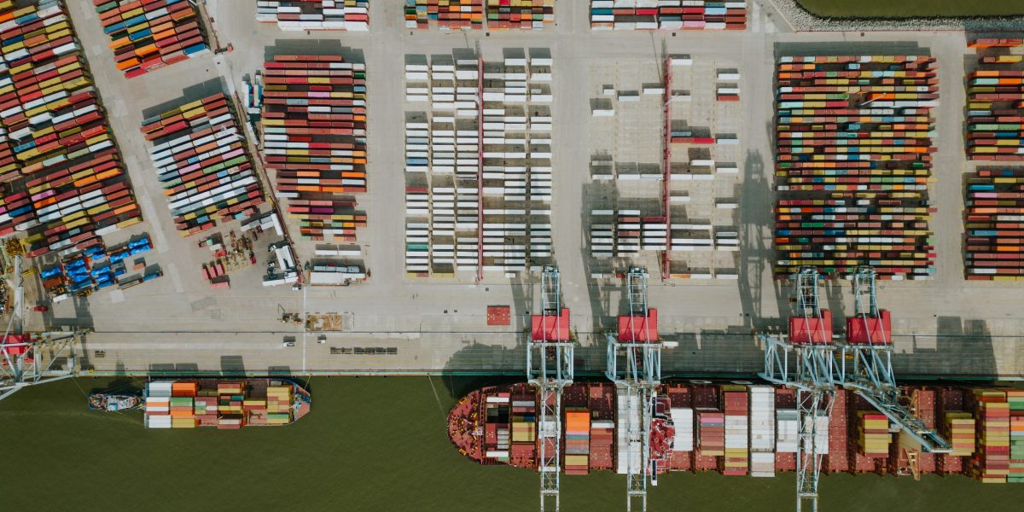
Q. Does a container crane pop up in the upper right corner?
No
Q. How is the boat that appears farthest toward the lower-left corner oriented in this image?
from left to right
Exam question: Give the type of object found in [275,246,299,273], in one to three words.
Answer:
building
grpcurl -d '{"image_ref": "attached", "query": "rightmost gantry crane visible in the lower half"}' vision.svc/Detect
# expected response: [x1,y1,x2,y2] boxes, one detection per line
[823,266,958,449]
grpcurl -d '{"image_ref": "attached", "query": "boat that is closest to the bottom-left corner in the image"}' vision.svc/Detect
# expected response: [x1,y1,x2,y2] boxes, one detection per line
[87,391,141,412]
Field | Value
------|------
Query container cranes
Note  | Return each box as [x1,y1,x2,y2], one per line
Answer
[595,267,678,512]
[0,266,95,404]
[518,266,577,512]
[823,266,958,449]
[750,267,835,512]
